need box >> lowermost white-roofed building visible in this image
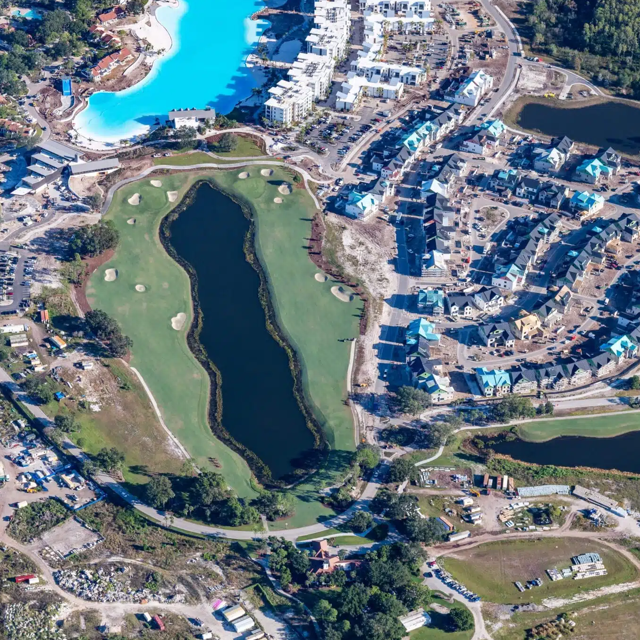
[404,608,431,636]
